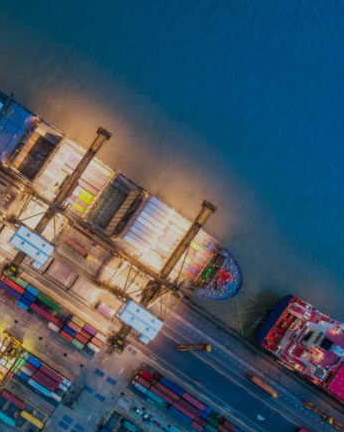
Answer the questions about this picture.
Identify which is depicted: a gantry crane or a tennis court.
gantry crane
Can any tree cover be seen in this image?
No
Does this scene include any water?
Yes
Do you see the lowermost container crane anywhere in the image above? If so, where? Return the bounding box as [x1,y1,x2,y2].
[0,328,29,388]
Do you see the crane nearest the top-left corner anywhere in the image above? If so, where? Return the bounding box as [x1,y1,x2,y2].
[1,126,110,273]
